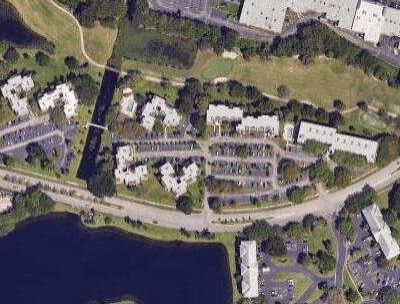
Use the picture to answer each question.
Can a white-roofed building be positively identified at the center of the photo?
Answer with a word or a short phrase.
Yes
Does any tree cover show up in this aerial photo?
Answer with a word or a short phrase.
Yes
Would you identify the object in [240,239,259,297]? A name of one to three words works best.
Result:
building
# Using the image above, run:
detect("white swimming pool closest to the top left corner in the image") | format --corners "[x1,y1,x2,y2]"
[121,95,138,118]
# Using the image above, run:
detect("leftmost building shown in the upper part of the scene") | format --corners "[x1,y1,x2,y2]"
[1,75,35,116]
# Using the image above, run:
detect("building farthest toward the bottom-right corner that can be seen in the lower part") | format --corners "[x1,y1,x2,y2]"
[361,204,400,258]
